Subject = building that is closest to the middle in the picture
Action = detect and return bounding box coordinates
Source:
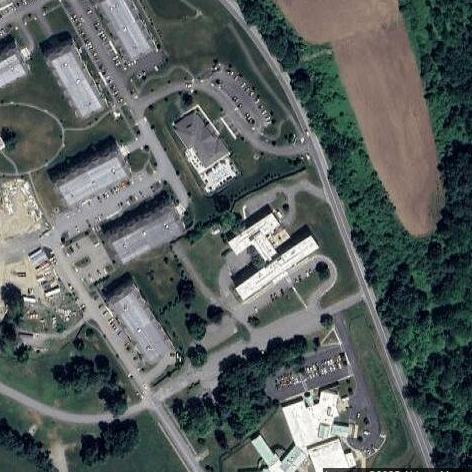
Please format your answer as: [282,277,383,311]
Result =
[229,212,280,261]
